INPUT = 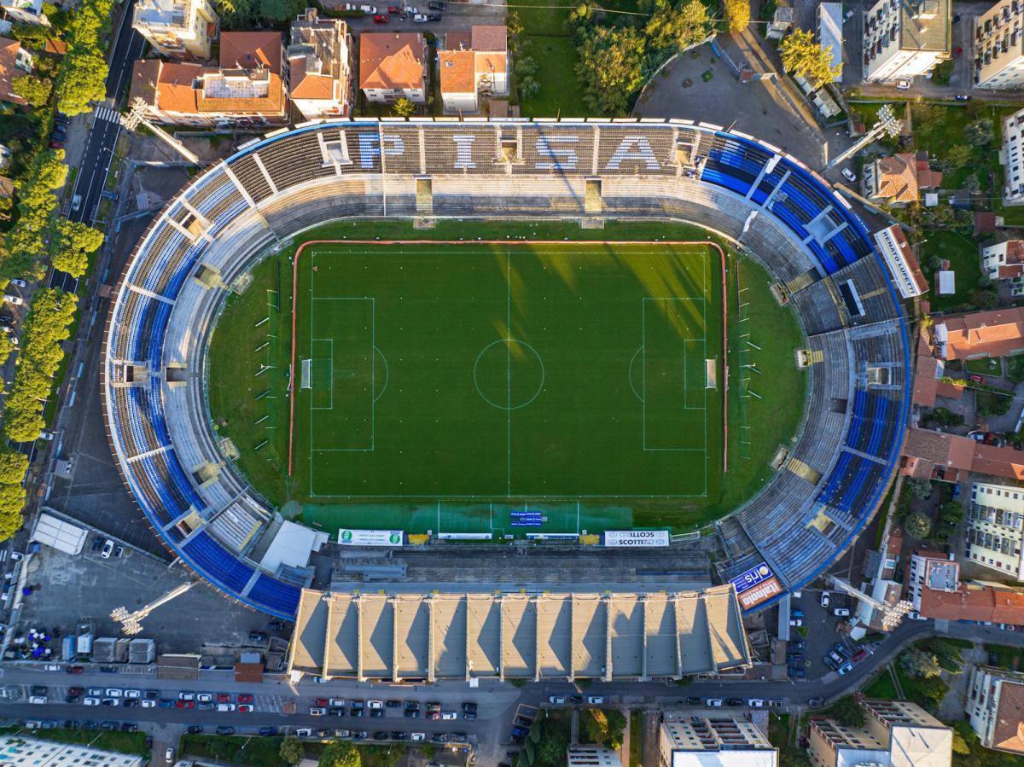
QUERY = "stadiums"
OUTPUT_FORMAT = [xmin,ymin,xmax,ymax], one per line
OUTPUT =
[92,114,916,688]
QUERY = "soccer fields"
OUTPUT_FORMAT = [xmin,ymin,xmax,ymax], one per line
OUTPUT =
[203,217,810,546]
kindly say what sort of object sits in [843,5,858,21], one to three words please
vehicle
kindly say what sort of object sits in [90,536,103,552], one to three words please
vehicle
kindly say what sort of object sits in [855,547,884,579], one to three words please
shed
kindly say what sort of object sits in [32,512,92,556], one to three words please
building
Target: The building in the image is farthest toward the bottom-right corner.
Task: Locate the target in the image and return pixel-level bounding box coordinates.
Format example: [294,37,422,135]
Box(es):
[957,658,1024,754]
